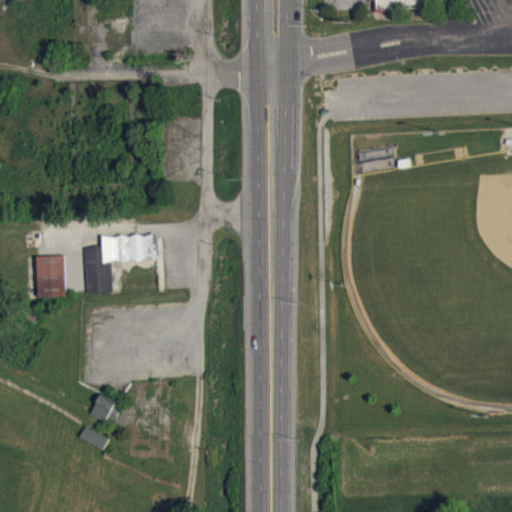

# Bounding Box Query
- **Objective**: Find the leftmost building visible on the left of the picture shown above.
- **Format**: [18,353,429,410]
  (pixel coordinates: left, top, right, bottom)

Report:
[36,256,67,297]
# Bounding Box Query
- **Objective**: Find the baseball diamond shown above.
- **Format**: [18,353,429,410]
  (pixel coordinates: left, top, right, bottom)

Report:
[343,153,512,410]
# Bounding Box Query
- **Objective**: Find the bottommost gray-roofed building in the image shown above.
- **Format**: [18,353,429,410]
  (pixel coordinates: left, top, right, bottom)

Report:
[80,426,112,451]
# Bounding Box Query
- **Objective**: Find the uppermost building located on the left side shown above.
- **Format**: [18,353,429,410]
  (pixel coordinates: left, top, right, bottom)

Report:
[103,234,156,264]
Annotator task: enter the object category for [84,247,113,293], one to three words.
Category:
building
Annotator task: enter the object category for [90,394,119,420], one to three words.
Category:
house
